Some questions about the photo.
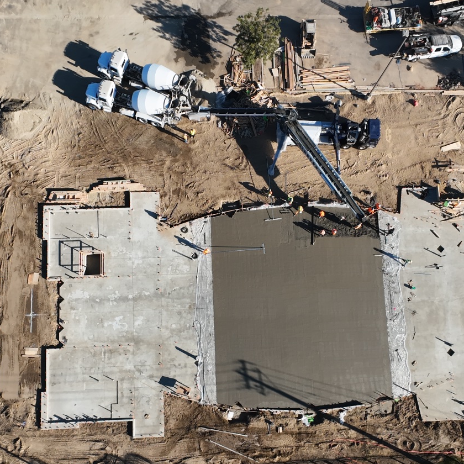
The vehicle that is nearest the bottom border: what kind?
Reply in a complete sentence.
It turns out the vehicle that is nearest the bottom border is a truck.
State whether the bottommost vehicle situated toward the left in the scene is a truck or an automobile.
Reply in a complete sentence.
The bottommost vehicle situated toward the left in the image is a truck.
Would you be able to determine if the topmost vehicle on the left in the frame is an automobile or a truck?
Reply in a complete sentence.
Looking closely, the topmost vehicle on the left is a truck.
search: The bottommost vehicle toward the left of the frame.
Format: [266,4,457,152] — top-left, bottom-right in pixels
[81,74,204,129]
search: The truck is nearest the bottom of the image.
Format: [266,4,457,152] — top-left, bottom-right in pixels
[187,103,380,220]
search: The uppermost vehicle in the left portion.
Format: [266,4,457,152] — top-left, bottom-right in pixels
[95,41,218,97]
